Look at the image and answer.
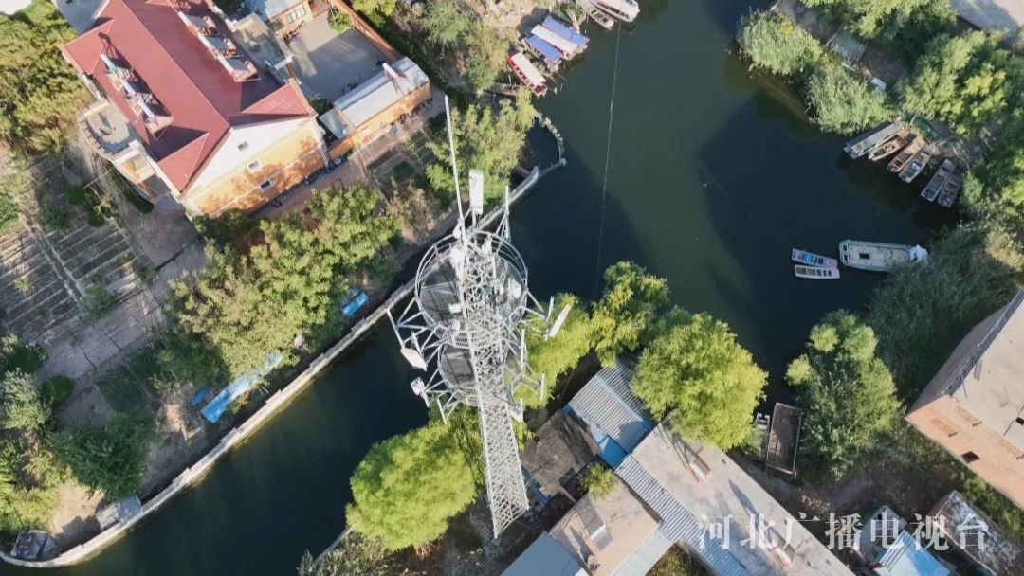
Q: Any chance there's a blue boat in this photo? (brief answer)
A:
Yes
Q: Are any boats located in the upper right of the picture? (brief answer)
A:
Yes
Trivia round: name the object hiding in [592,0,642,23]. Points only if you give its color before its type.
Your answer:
white boat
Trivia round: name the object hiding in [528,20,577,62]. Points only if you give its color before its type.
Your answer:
white boat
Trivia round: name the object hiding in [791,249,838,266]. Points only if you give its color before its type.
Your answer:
blue boat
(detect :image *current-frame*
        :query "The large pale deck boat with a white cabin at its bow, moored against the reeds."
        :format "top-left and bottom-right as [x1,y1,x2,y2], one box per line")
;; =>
[836,242,932,266]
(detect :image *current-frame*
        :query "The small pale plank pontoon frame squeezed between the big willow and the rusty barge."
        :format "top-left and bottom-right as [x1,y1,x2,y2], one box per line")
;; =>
[753,411,772,449]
